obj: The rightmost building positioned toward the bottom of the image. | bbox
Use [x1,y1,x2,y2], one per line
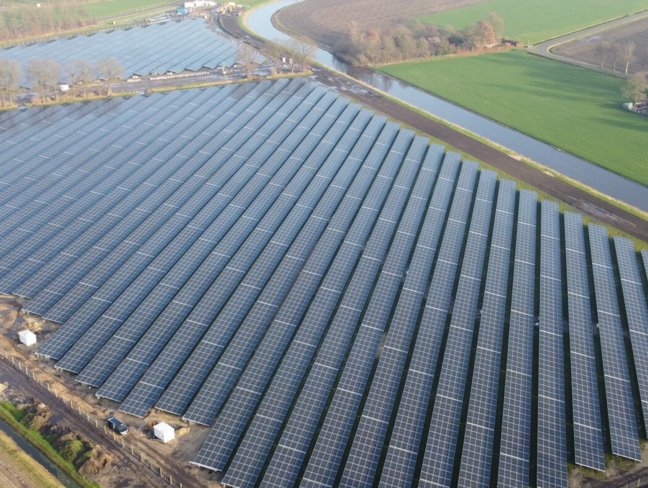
[155,419,176,443]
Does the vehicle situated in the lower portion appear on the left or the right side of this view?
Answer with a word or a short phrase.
left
